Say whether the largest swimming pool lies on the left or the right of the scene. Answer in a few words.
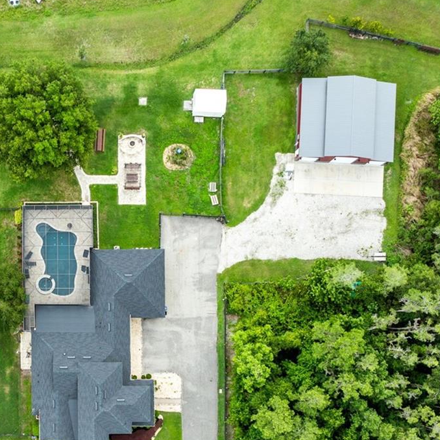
left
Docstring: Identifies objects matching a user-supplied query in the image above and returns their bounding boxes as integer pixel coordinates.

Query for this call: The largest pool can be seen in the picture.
[34,222,78,297]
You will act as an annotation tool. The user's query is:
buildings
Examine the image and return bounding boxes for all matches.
[31,249,165,440]
[191,91,225,120]
[291,75,396,166]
